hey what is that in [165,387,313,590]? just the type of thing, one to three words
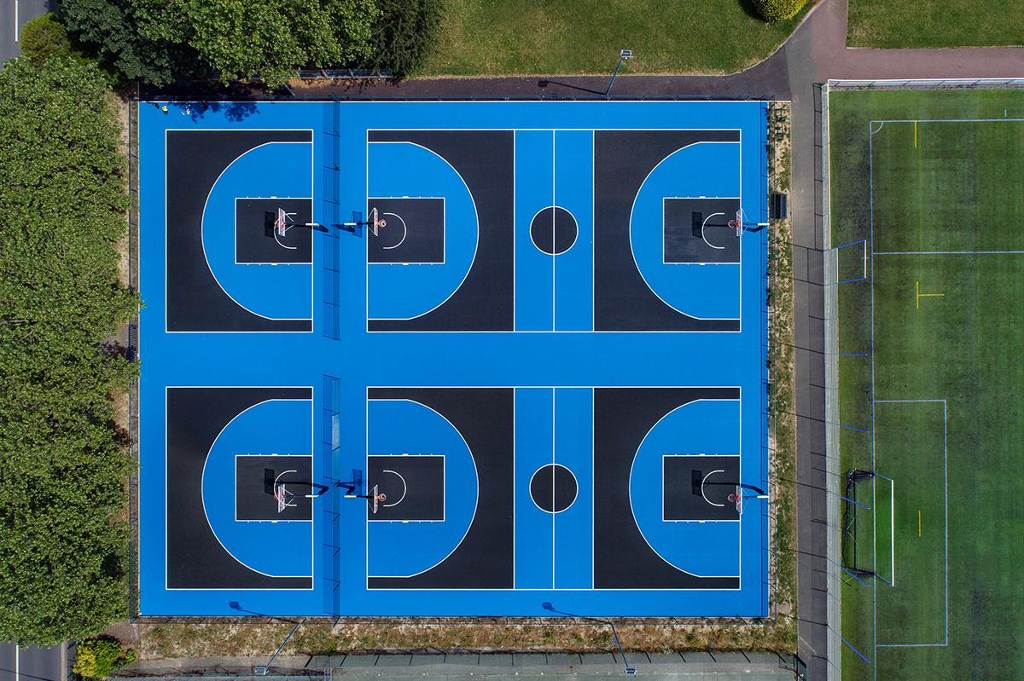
basketball court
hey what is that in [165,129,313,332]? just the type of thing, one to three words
basketball court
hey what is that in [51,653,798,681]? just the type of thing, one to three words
sports court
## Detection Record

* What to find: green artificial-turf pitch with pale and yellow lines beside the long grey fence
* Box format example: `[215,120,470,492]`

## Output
[823,84,1024,681]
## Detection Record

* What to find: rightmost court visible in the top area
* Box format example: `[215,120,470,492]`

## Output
[368,129,741,332]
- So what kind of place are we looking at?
sports ground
